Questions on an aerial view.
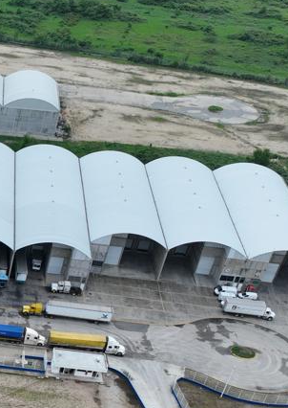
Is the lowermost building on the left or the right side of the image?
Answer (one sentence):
The lowermost building is on the left side of the image.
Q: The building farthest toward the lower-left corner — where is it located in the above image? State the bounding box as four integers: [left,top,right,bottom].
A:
[45,348,108,386]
